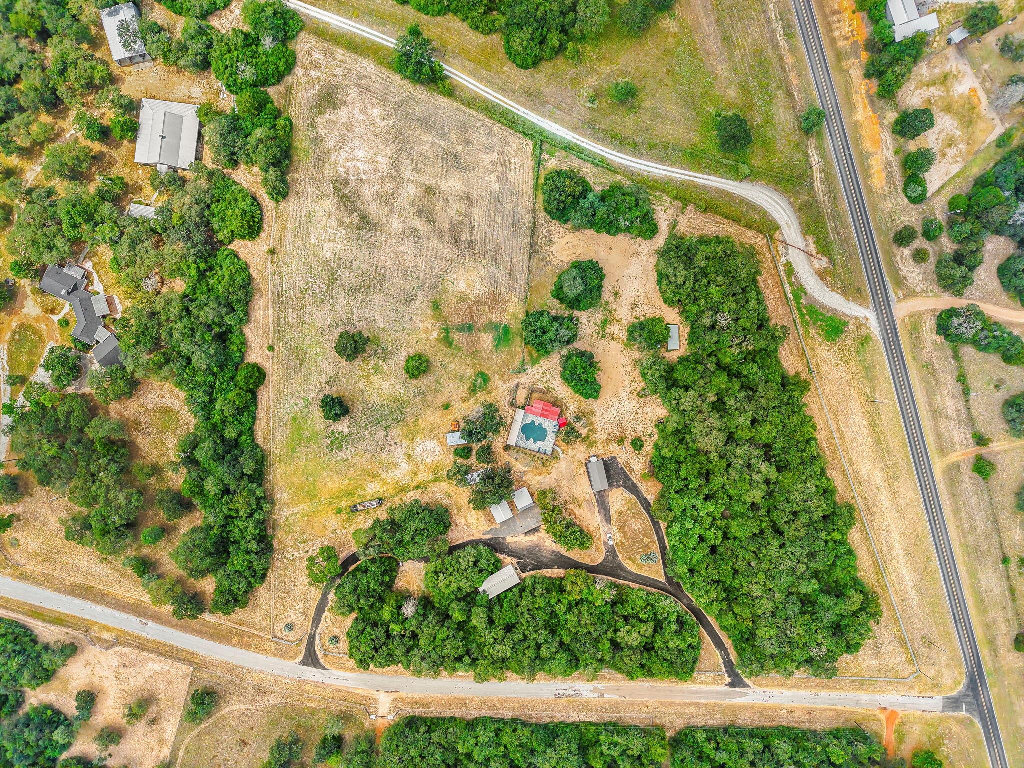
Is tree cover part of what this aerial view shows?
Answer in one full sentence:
Yes, the picture does contain tree cover.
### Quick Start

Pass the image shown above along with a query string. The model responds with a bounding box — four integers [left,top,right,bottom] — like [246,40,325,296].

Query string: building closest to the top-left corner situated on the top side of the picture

[101,3,153,70]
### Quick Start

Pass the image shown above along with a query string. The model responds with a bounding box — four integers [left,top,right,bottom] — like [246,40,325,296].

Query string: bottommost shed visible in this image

[478,561,521,600]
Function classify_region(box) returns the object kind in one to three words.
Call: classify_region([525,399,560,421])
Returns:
building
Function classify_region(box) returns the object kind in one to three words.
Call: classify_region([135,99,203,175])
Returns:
house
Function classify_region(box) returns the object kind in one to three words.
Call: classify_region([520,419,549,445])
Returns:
swimming pool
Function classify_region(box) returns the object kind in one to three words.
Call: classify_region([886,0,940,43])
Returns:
house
